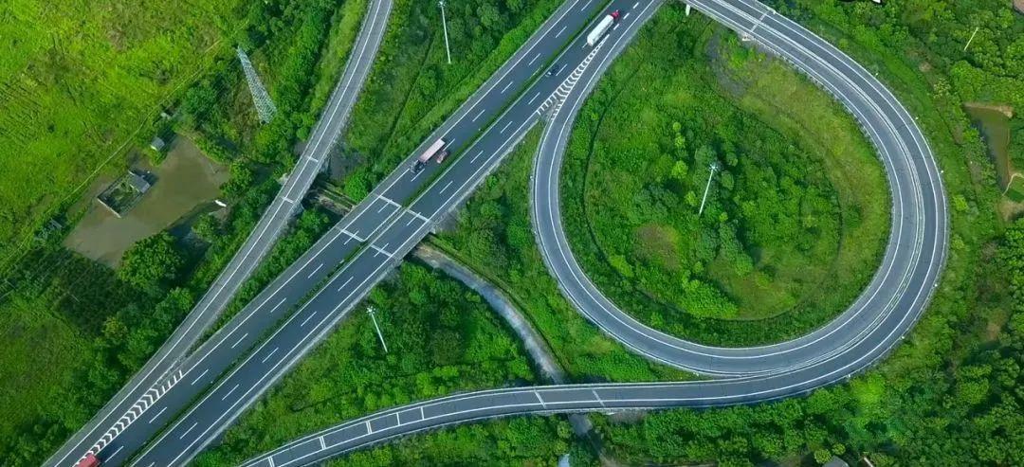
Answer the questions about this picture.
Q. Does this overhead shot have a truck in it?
Yes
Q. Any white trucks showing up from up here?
Yes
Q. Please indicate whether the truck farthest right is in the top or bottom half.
top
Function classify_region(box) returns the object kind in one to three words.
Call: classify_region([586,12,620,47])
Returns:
truck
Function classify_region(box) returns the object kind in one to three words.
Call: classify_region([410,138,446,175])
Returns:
truck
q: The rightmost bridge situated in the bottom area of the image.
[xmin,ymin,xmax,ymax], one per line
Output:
[503,381,655,418]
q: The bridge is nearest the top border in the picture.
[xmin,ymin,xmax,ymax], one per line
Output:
[672,0,787,43]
